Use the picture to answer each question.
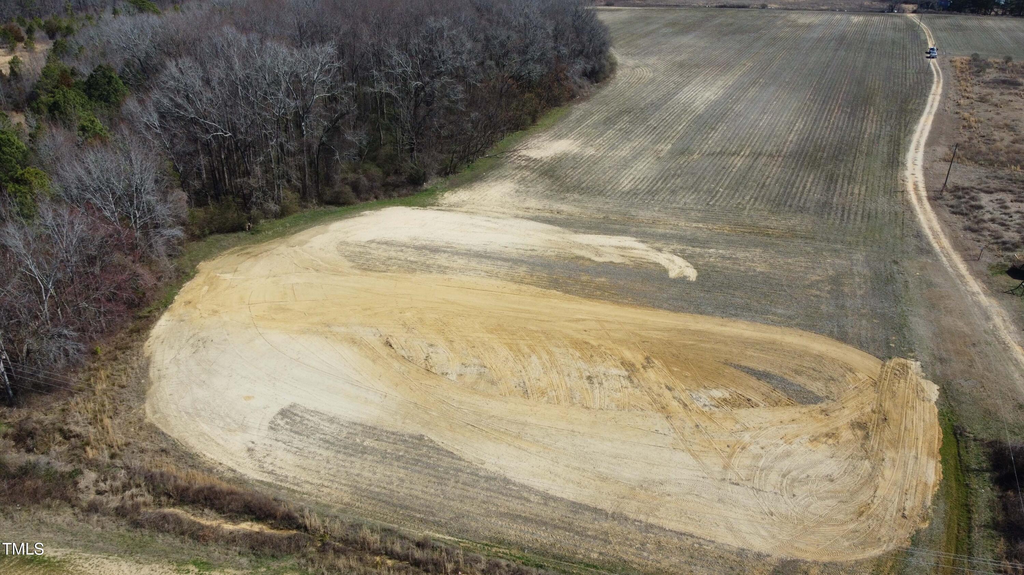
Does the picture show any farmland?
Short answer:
Yes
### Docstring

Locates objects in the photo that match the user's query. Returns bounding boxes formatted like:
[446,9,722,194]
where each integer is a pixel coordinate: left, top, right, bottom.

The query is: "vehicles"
[930,49,940,58]
[929,45,938,53]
